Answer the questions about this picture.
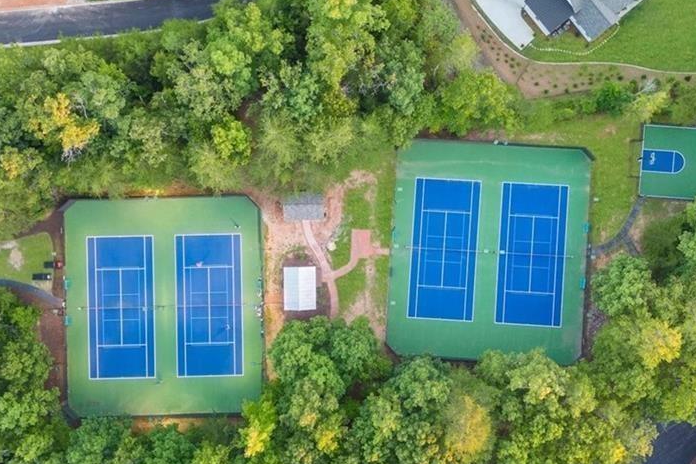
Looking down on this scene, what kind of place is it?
sports ground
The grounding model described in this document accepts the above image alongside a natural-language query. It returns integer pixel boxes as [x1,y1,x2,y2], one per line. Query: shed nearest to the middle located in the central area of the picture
[283,196,324,221]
